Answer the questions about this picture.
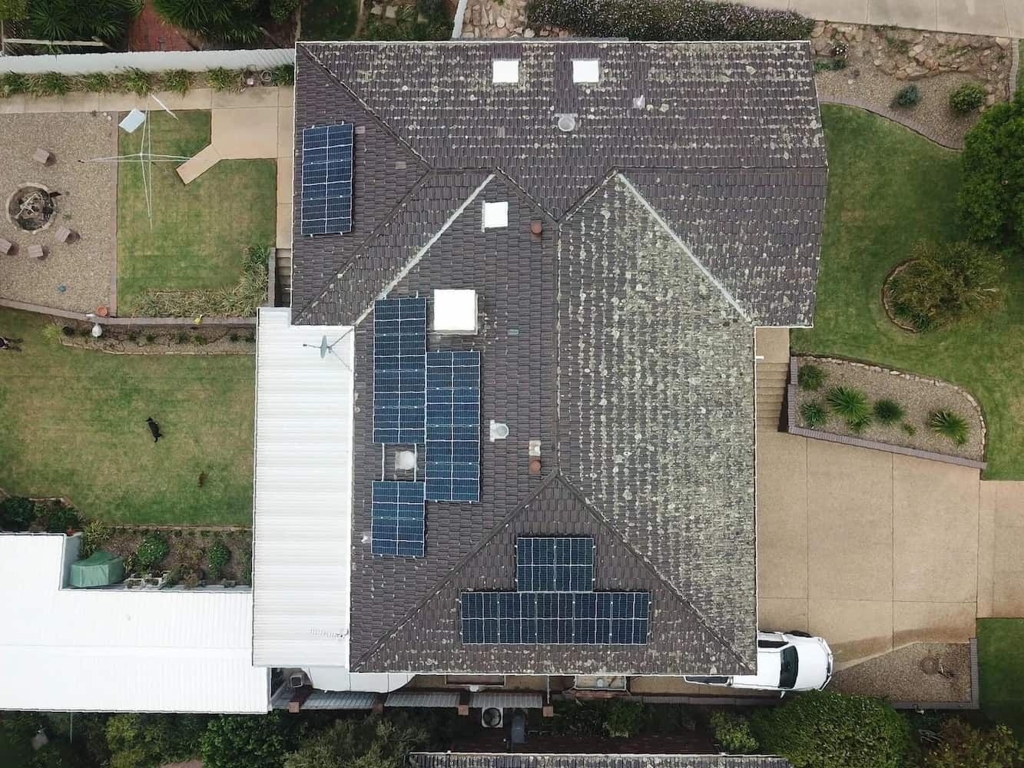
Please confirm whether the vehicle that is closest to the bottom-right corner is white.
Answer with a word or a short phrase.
Yes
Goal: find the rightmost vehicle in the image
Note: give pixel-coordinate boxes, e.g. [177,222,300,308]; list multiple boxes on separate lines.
[673,627,832,698]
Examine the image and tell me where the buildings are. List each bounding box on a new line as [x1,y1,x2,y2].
[0,532,279,715]
[409,739,792,768]
[289,36,828,678]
